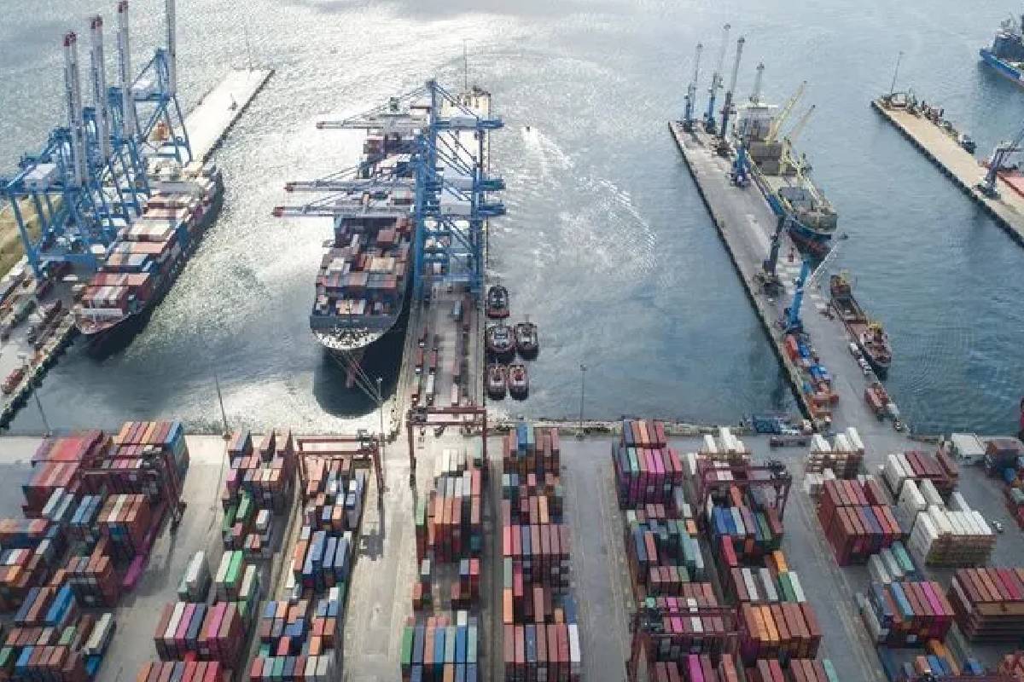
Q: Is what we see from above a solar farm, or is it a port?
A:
port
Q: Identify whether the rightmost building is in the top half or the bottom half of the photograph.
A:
bottom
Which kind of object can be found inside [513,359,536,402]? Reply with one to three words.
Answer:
boat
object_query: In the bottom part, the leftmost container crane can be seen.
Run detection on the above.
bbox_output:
[64,454,185,536]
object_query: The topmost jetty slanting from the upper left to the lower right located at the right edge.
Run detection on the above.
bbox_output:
[870,95,1024,261]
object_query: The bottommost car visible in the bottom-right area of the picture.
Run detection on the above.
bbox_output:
[991,520,1006,532]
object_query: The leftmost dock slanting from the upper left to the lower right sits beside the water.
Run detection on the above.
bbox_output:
[669,123,907,430]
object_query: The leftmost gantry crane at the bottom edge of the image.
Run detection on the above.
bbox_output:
[631,617,753,682]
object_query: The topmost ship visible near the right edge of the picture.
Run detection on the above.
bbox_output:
[979,35,1024,94]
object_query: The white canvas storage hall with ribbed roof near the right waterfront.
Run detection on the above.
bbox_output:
[947,437,996,474]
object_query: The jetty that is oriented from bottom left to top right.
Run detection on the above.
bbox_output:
[0,69,274,434]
